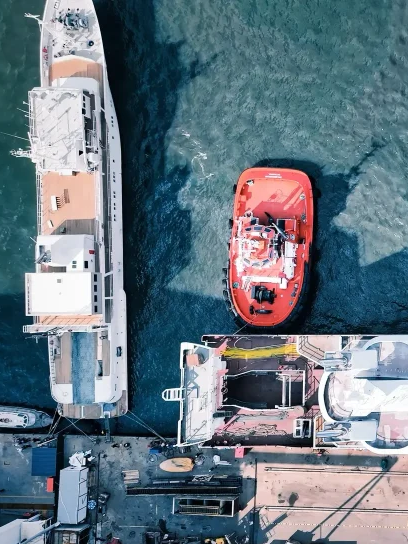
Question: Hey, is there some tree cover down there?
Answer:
No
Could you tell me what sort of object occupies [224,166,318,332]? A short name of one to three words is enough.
boat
